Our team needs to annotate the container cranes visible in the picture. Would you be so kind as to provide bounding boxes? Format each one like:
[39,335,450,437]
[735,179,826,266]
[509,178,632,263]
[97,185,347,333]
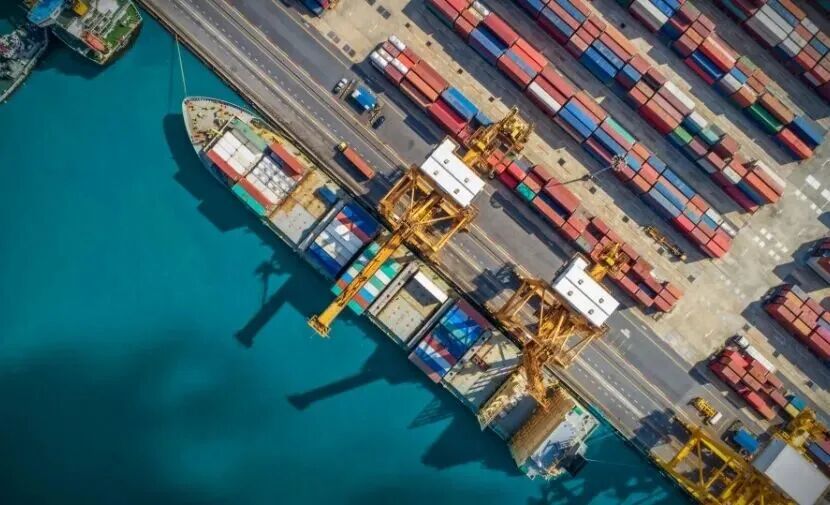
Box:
[626,399,829,505]
[481,245,644,430]
[303,105,524,333]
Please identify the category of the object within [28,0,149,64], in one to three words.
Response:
ship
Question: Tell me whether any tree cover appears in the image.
No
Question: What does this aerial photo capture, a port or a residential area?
port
